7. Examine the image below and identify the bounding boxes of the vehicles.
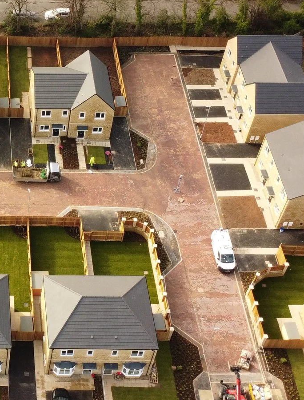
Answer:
[12,160,61,182]
[51,388,69,400]
[212,228,236,272]
[218,360,249,400]
[42,7,72,18]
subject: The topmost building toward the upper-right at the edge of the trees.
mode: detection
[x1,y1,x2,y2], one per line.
[216,34,304,141]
